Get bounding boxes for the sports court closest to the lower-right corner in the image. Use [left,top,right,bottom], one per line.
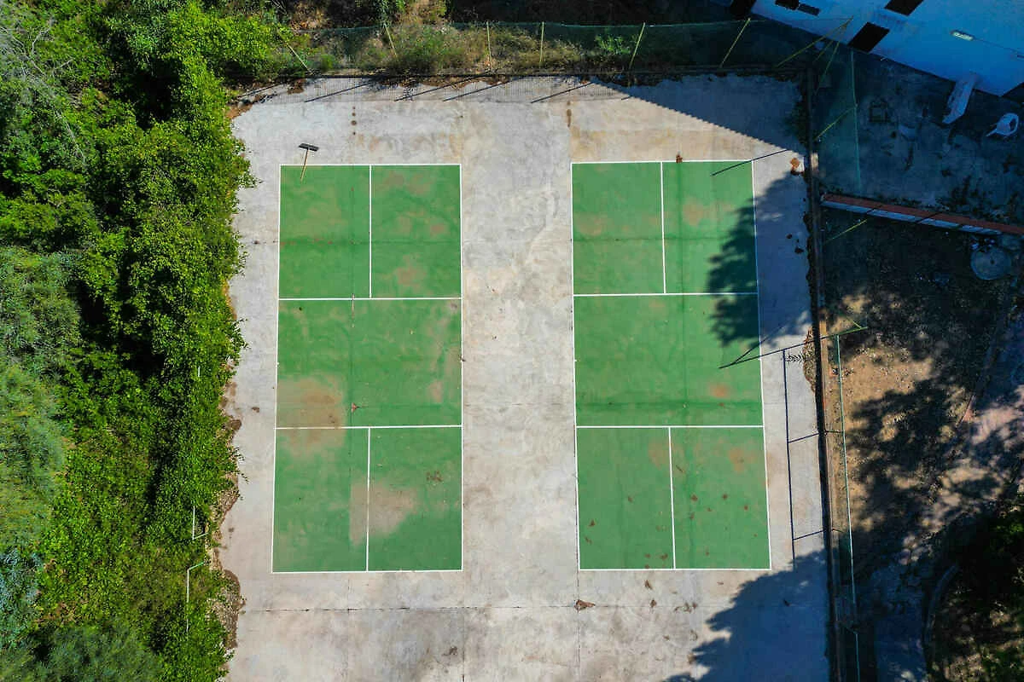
[571,159,771,571]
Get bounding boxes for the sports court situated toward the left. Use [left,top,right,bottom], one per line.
[272,162,464,574]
